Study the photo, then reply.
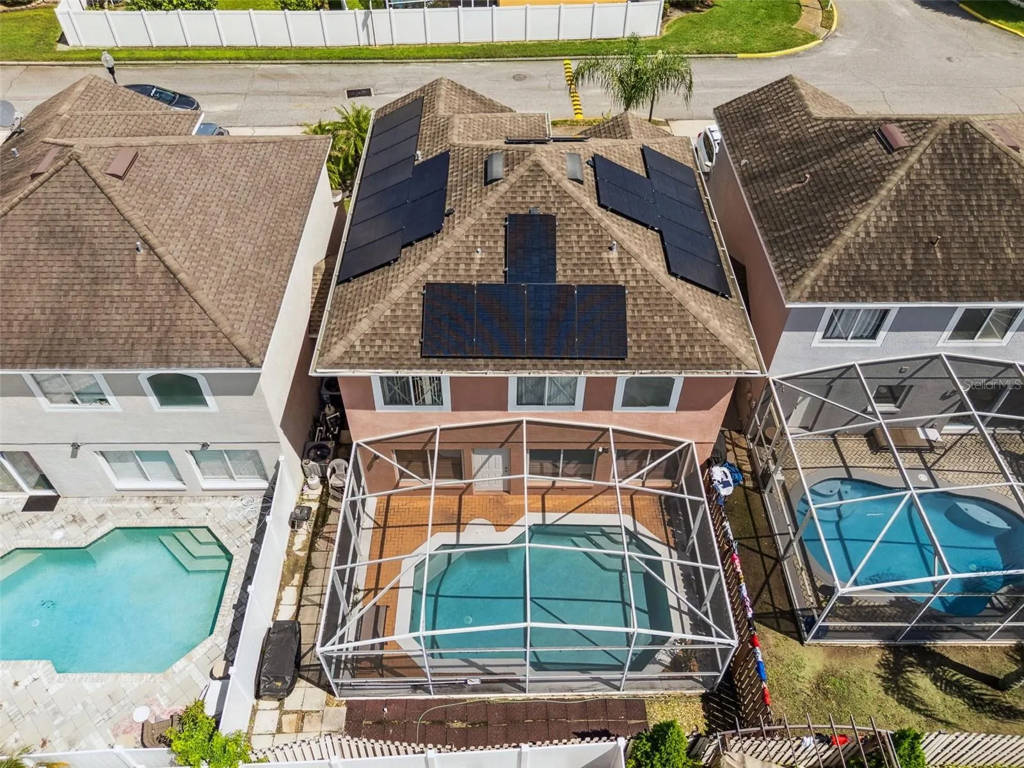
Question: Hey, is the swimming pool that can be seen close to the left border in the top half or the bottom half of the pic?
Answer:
bottom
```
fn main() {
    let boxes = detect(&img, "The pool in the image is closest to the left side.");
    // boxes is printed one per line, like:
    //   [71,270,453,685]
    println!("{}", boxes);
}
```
[0,515,243,684]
